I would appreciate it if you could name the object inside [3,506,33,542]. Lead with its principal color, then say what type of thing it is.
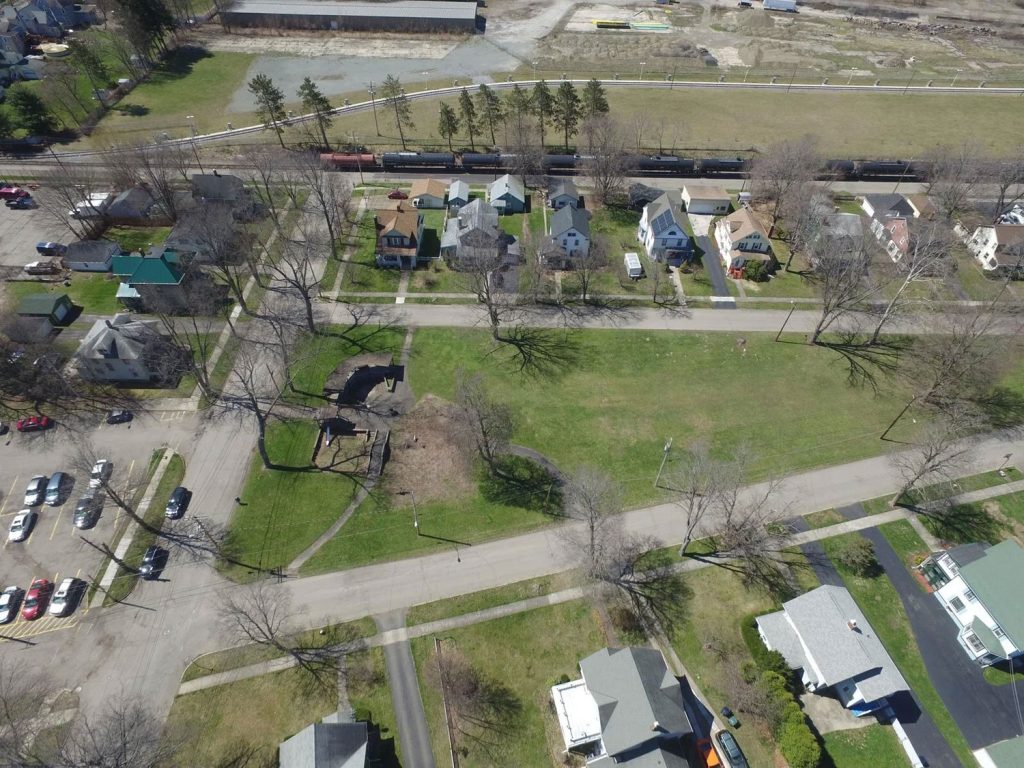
white car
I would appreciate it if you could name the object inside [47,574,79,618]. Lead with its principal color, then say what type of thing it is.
white car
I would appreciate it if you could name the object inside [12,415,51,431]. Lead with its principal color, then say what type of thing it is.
red car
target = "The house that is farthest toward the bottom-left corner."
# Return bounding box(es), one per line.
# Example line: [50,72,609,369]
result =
[278,711,380,768]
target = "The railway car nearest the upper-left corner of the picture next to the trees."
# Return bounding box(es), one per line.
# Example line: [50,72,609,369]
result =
[317,146,378,169]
